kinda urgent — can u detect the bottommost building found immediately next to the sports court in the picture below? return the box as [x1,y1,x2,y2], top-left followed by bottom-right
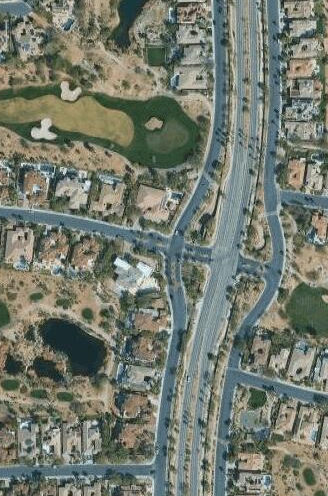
[172,67,207,89]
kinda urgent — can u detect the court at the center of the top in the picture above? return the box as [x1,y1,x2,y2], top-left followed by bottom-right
[146,46,167,66]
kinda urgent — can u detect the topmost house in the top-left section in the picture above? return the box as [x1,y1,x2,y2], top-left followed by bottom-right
[48,0,77,25]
